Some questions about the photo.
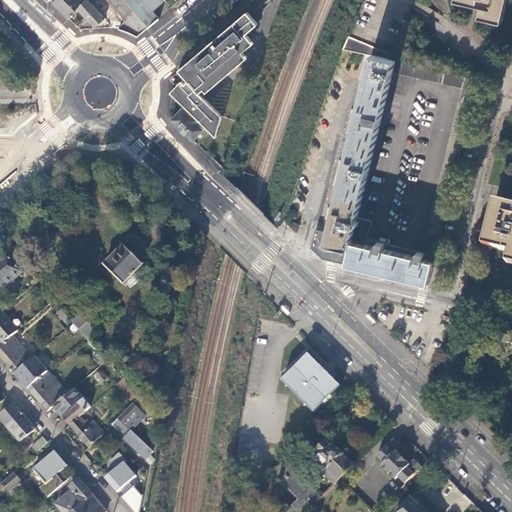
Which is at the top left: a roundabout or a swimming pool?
roundabout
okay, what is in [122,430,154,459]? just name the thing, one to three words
shed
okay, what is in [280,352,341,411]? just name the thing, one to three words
building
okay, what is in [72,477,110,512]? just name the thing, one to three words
house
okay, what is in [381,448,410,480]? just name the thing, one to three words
house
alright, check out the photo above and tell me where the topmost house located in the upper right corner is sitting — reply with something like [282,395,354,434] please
[451,0,505,28]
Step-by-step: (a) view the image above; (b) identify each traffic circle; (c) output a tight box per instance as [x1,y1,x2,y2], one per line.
[36,34,176,154]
